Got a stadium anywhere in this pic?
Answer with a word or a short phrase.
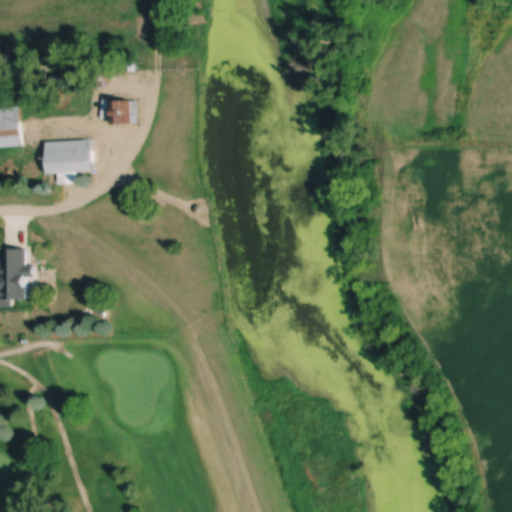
No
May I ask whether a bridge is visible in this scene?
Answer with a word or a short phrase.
No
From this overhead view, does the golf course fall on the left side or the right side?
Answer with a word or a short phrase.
left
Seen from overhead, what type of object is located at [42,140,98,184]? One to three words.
house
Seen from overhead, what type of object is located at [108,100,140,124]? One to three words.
barn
